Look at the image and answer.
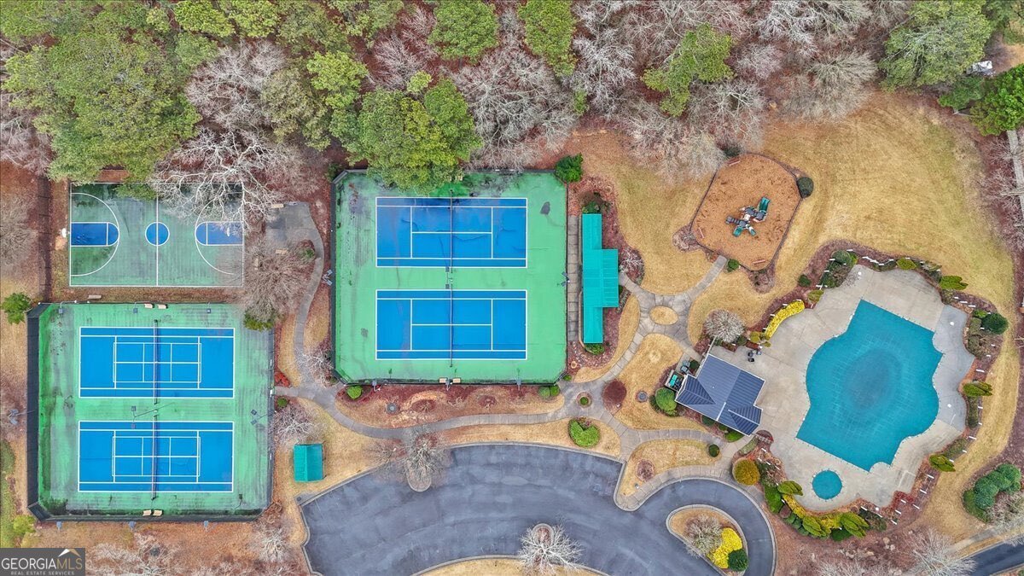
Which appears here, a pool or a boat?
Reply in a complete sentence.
This aerial view contains a pool.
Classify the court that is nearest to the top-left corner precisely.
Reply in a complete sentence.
I'd say the court that is nearest to the top-left corner is a basketball court.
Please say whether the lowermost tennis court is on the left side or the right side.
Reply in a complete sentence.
The lowermost tennis court appears in the left half of the scene.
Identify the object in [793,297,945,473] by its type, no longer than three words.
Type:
swimming pool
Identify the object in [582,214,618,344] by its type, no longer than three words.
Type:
building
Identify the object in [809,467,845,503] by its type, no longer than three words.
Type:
swimming pool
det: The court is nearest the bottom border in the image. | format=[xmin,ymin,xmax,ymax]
[39,410,269,514]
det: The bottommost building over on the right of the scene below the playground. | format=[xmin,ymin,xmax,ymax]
[675,354,765,436]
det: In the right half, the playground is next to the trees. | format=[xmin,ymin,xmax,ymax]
[690,151,804,273]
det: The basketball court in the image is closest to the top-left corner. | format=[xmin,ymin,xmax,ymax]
[68,181,245,288]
